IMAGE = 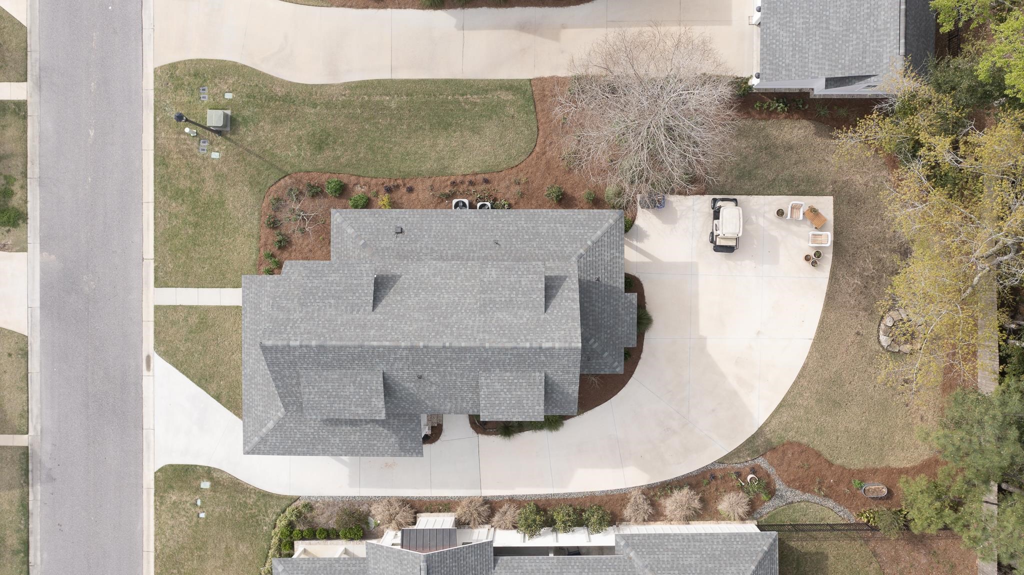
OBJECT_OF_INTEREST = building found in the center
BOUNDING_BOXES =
[242,208,637,458]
